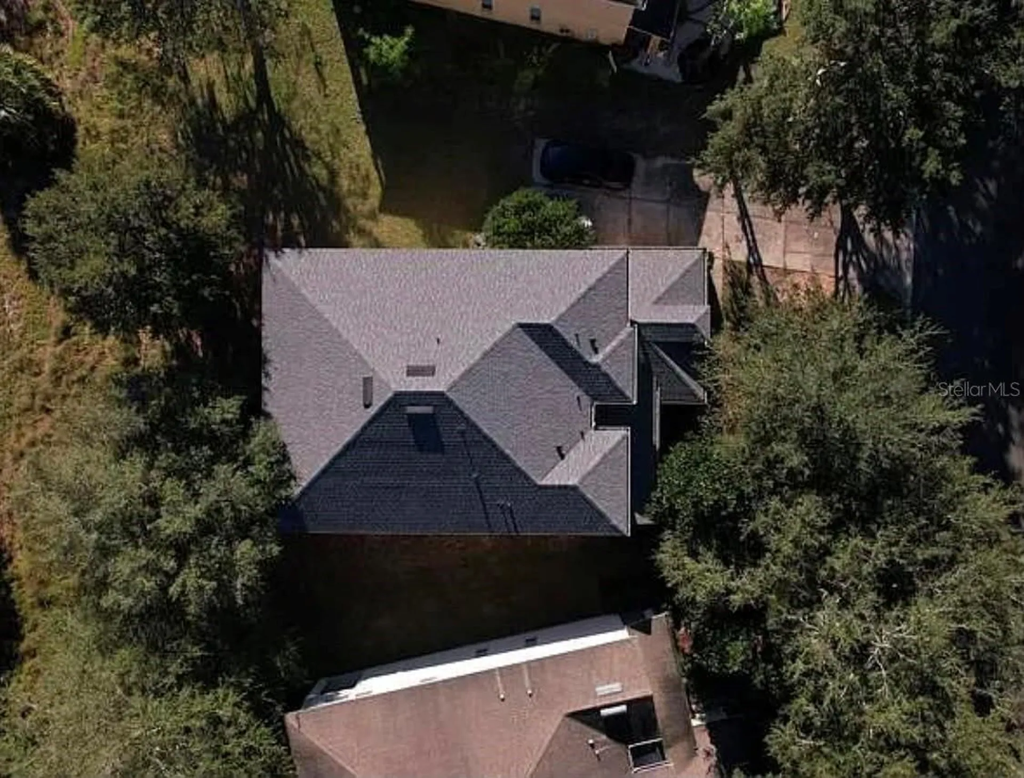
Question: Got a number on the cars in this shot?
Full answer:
I count 1 car.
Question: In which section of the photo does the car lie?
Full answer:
The car sits in the top section of the image.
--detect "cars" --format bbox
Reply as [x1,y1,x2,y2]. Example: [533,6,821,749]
[538,133,640,186]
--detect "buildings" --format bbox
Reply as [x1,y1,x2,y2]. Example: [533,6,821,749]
[261,246,714,537]
[413,0,680,70]
[274,599,734,778]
